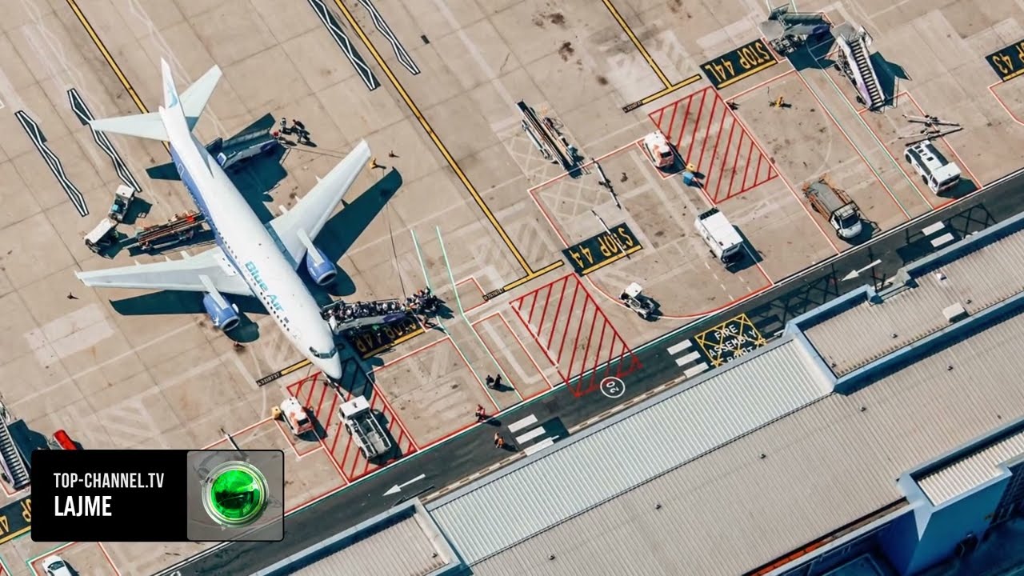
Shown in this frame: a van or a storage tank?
van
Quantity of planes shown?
one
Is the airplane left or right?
left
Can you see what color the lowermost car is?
white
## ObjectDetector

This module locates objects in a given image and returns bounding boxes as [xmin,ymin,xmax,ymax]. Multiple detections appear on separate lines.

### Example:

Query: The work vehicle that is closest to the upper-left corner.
[102,185,133,227]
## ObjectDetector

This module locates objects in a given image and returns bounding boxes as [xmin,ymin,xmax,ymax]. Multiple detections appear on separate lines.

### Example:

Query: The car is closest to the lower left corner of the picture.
[43,552,77,576]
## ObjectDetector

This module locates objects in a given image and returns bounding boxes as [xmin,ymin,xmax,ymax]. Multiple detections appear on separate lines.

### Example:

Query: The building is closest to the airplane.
[254,212,1024,576]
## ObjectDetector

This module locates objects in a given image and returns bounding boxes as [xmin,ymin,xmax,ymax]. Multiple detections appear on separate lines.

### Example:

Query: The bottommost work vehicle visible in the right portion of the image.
[616,279,648,323]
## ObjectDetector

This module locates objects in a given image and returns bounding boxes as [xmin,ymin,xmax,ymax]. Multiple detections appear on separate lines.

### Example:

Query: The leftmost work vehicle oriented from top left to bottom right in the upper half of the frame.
[517,106,580,170]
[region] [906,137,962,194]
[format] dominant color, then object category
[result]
white vehicle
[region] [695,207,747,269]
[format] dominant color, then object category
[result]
white van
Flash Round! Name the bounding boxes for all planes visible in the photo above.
[73,58,369,380]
